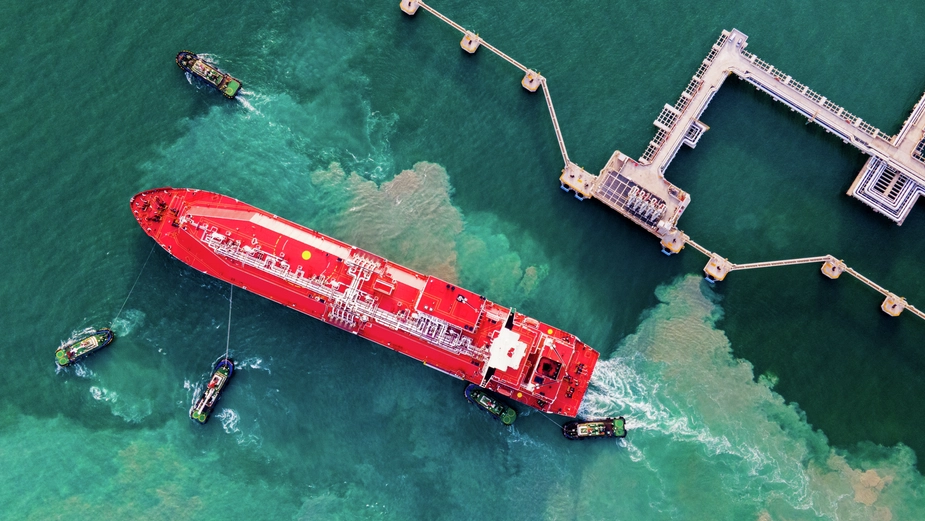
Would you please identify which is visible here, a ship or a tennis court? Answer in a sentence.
There is a ship in the scene.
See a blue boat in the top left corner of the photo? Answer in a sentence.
No, looking in the top left corner of the photo, there is no blue boat.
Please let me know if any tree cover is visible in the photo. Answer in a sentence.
No, tree cover can't be seen anywhere here.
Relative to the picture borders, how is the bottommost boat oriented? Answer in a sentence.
Seen from above, the bottommost boat lies from side to side.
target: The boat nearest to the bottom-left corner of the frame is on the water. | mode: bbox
[52,327,117,368]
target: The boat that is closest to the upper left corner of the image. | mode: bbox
[176,52,245,101]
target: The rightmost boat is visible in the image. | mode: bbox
[562,417,627,439]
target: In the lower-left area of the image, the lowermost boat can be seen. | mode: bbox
[191,355,234,423]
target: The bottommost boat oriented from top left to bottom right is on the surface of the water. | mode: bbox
[464,384,519,426]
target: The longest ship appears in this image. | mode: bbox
[128,188,602,416]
